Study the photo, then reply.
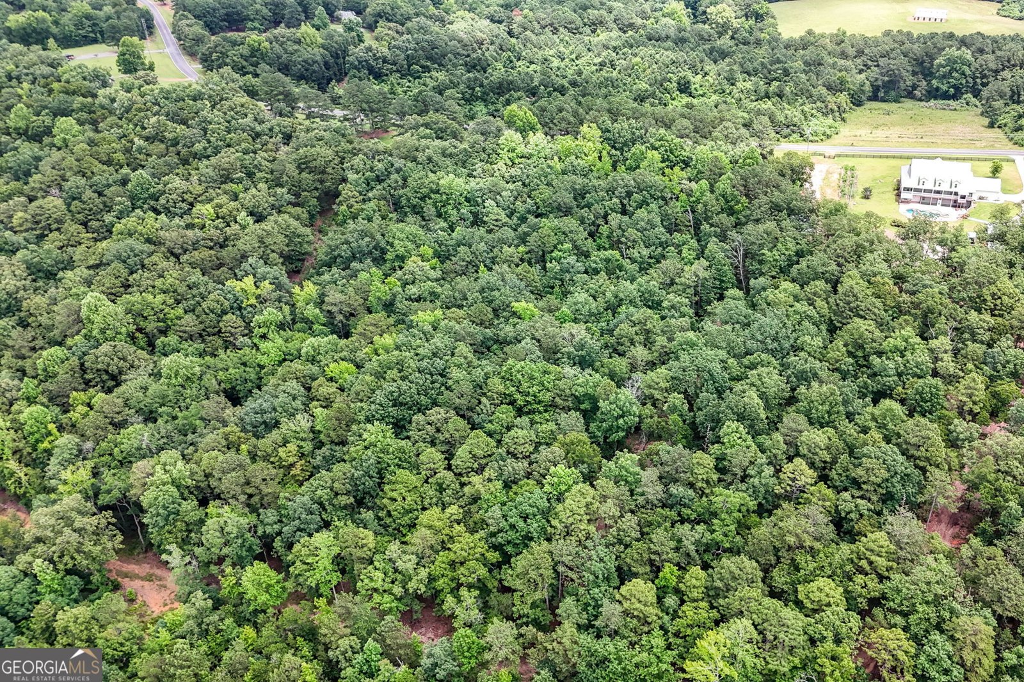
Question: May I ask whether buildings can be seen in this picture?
Yes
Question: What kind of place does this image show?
forest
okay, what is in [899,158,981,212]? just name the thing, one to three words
house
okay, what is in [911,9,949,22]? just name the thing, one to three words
barn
